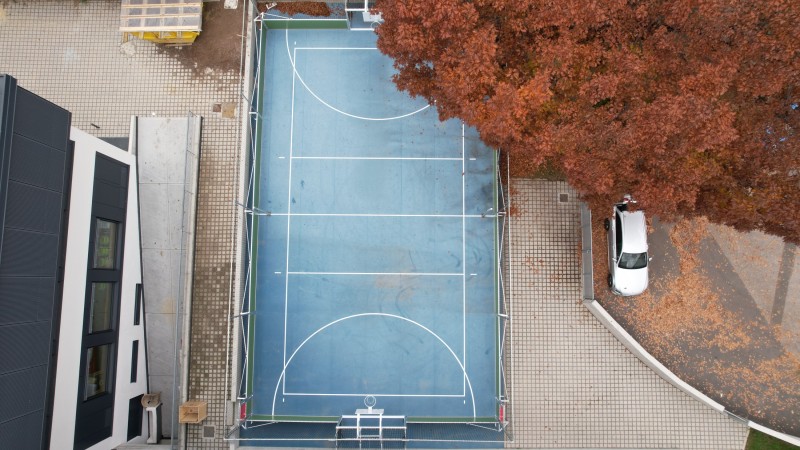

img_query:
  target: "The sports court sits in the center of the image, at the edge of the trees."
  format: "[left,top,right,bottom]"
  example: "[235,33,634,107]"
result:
[245,3,505,447]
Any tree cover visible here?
Yes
